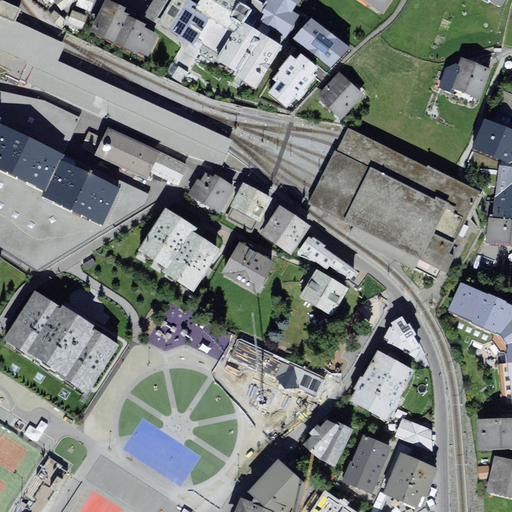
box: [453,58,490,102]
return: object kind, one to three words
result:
house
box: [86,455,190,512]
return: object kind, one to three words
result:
sports court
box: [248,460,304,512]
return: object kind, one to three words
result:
building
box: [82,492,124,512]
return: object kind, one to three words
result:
sports court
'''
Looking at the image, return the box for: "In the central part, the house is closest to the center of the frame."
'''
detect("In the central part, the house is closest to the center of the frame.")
[223,242,274,294]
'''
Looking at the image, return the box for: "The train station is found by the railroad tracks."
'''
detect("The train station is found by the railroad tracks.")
[0,16,232,166]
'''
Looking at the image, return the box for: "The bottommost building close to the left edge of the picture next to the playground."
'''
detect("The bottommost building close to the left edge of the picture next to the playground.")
[5,291,118,394]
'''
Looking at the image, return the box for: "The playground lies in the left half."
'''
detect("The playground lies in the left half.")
[147,303,233,359]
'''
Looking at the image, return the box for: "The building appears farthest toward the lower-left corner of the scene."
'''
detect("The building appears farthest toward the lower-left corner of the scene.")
[14,458,64,512]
